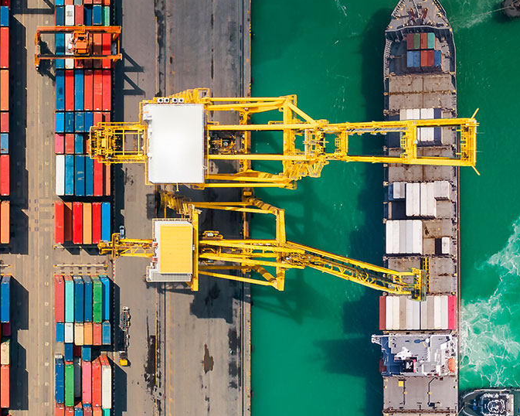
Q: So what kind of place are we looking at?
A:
port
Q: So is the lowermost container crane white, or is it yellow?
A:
yellow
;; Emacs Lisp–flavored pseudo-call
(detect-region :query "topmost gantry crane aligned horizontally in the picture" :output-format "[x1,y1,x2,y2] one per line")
[32,25,123,70]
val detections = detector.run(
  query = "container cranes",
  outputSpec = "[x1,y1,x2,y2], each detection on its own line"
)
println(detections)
[32,25,123,70]
[87,84,480,192]
[98,186,422,309]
